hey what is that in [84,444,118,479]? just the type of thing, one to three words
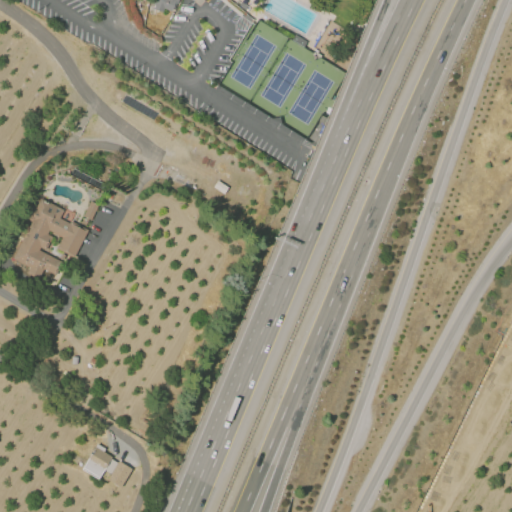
house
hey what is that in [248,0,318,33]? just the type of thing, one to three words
swimming pool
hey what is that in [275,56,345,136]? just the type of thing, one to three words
tennis court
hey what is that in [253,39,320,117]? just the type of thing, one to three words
tennis court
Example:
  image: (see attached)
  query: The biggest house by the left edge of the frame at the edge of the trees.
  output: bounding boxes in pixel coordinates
[10,198,89,279]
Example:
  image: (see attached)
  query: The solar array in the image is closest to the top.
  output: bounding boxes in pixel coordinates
[123,95,158,119]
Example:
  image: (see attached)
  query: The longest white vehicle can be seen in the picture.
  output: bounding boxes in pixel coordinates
[224,394,242,428]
